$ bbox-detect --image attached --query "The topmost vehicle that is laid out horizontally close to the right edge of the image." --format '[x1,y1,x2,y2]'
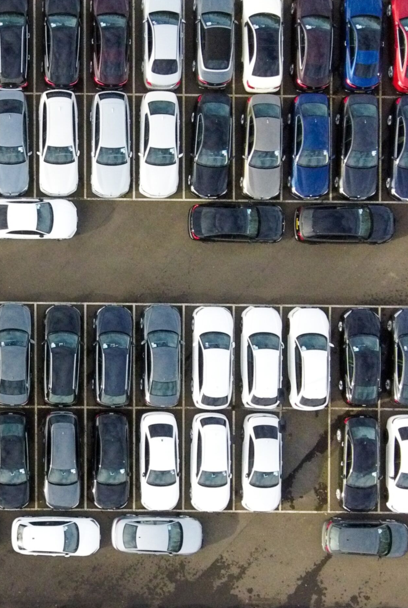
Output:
[291,198,394,247]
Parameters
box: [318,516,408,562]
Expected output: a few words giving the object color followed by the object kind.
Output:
gray car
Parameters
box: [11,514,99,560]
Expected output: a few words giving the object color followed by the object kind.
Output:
white car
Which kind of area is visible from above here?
parking lot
